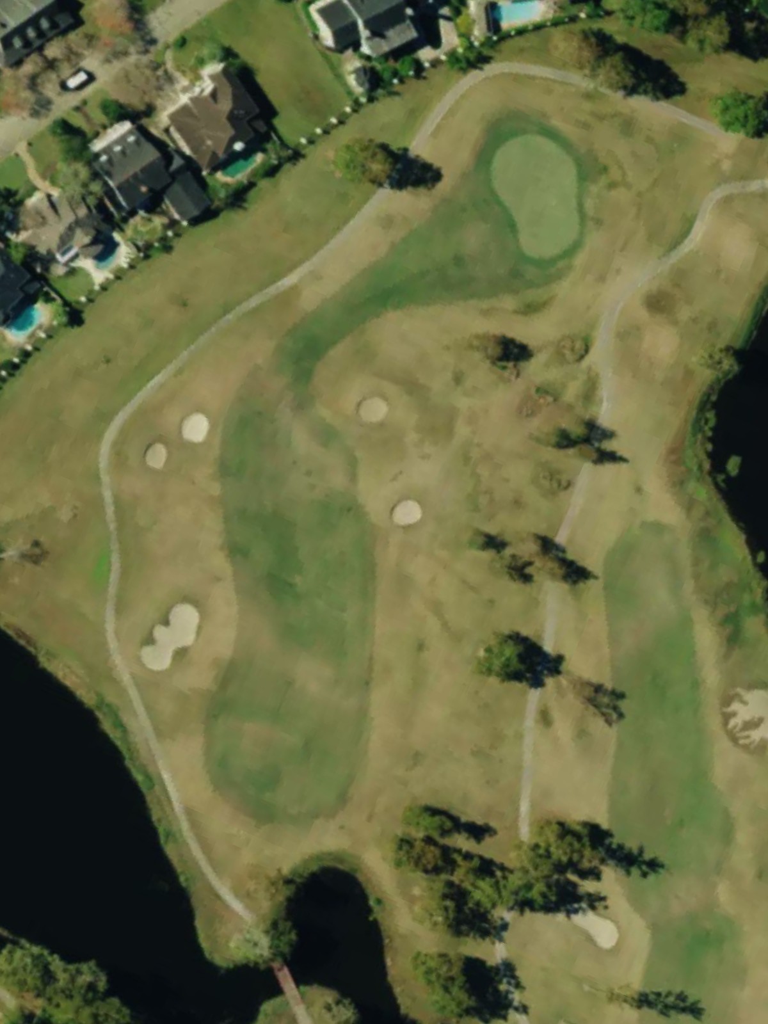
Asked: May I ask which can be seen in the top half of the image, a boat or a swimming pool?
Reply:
swimming pool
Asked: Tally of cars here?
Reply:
1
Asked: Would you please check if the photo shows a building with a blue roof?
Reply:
No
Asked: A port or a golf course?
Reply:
golf course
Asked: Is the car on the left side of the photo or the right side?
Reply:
left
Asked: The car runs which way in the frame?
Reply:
diagonally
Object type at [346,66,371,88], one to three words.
building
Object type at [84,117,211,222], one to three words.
house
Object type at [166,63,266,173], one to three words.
house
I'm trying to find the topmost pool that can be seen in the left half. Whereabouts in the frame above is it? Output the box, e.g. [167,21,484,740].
[218,151,261,180]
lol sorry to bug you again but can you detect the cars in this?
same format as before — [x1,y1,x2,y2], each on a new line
[61,67,90,91]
